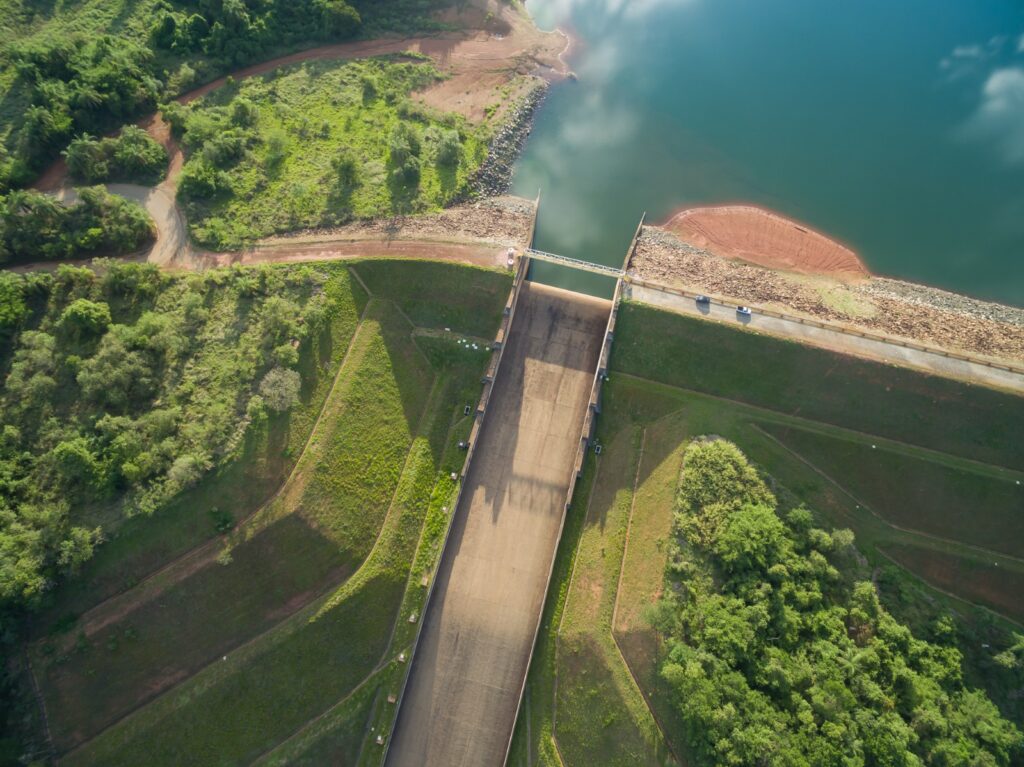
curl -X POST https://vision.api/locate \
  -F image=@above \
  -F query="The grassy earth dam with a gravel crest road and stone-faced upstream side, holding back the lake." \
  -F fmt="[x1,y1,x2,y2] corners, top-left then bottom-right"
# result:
[265,197,1024,560]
